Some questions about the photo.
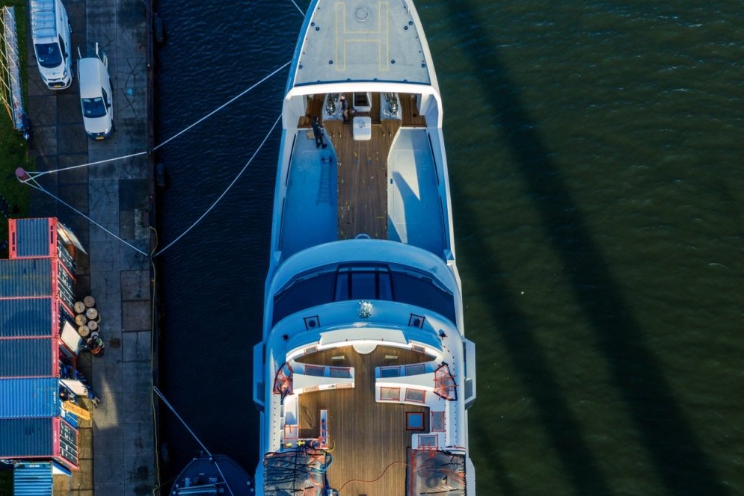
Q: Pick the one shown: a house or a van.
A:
van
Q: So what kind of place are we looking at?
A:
port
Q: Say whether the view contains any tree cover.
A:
No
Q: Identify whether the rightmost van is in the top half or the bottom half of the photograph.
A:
top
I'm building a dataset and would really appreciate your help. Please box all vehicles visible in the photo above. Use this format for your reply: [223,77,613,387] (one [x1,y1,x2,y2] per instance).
[29,0,75,84]
[73,35,118,136]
